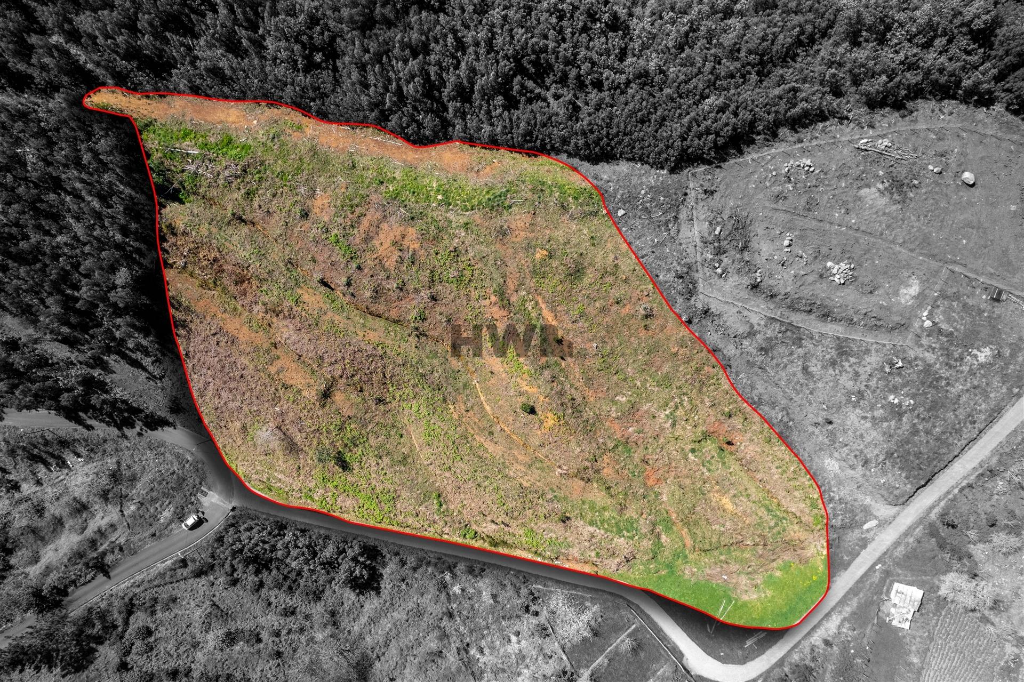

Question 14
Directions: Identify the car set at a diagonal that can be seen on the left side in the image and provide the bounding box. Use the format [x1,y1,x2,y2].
[179,515,202,533]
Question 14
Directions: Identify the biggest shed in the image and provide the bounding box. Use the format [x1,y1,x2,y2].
[888,583,924,628]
